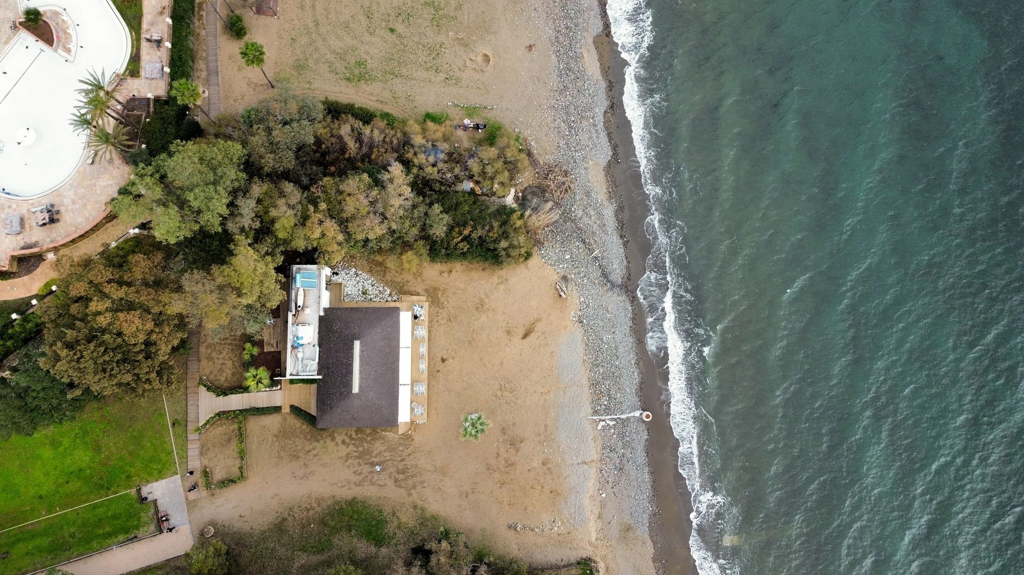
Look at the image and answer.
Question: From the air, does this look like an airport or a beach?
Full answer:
It's a beach.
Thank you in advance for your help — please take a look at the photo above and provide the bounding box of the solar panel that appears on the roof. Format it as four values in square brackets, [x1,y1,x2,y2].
[301,271,317,289]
